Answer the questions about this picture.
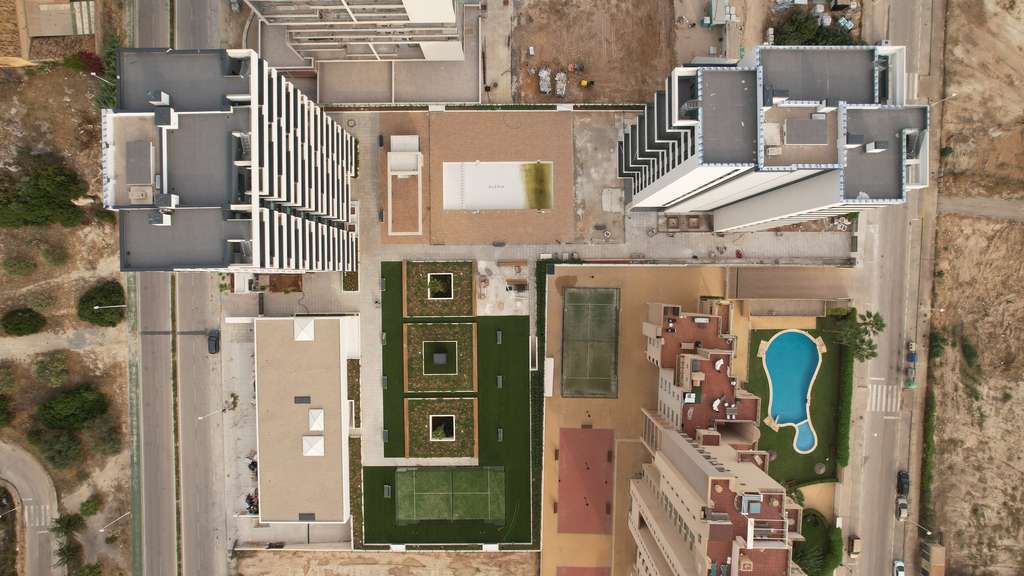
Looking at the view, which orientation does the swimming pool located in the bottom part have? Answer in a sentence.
In this picture, the swimming pool located in the bottom part lies vertically.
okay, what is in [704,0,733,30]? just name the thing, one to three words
shed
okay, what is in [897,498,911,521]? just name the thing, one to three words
car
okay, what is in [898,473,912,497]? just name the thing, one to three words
car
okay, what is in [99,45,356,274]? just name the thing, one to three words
building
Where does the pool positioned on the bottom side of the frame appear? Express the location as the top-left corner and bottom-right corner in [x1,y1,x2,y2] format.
[764,330,821,454]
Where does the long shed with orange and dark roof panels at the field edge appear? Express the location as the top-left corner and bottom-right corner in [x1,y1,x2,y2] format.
[913,539,946,576]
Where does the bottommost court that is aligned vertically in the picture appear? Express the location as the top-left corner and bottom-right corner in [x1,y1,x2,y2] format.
[558,429,616,576]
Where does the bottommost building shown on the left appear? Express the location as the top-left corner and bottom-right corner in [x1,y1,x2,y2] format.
[254,315,362,524]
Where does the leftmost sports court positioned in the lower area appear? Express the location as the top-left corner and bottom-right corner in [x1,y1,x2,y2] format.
[394,469,505,526]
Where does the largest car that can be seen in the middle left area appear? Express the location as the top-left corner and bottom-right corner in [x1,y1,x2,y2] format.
[205,330,218,353]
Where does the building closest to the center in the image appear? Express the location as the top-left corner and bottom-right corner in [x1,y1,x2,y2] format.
[387,136,426,236]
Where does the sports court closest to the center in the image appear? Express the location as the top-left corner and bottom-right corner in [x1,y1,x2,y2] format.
[561,288,624,402]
